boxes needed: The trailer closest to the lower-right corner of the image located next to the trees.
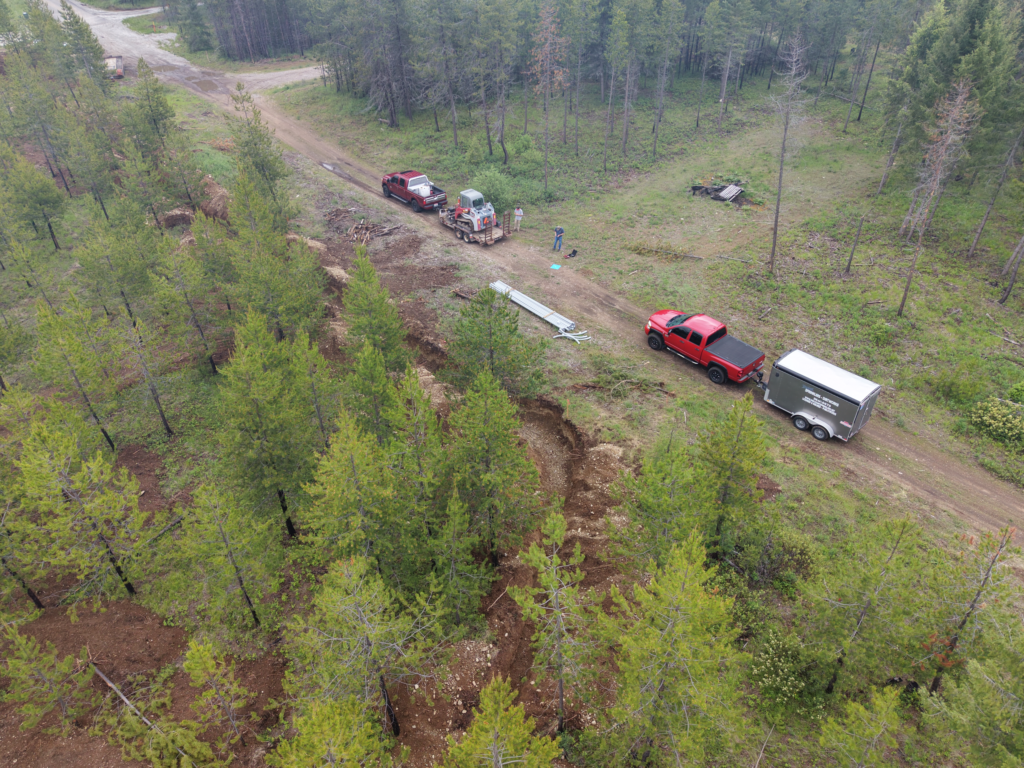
[754,348,882,440]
